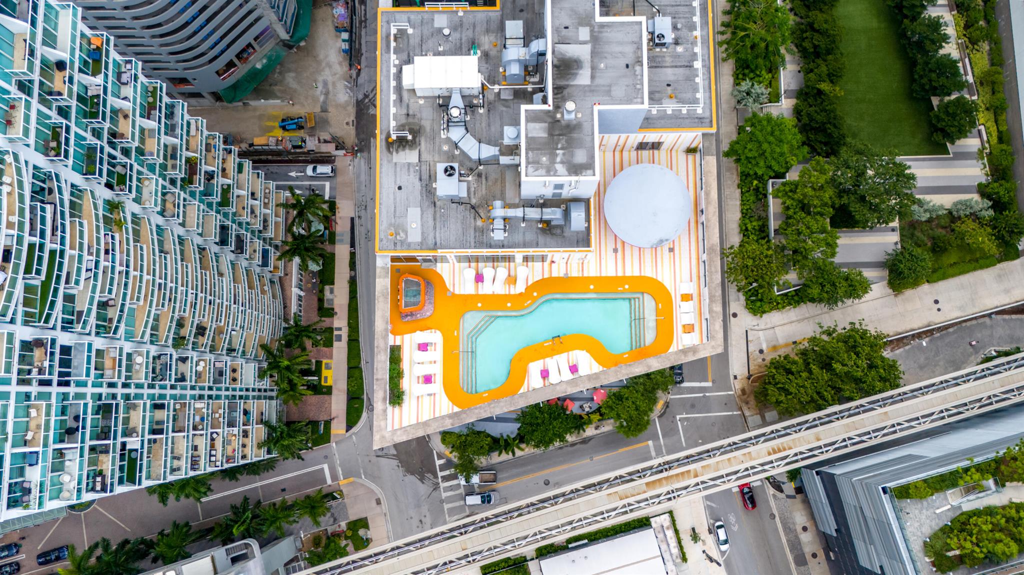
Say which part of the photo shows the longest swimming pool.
center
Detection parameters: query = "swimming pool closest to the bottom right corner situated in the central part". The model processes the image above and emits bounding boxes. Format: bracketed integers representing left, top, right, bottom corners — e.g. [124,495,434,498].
[459,292,657,395]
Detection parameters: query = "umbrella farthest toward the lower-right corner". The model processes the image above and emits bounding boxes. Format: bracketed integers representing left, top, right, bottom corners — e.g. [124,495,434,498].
[592,389,607,404]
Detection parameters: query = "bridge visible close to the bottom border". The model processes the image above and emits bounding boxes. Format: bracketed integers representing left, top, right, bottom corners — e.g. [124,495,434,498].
[276,351,1024,575]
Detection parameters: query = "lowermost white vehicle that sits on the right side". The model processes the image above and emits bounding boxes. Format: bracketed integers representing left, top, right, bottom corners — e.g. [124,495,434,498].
[711,518,730,553]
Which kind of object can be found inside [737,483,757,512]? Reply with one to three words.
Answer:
car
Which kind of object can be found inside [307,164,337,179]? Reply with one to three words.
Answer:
car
